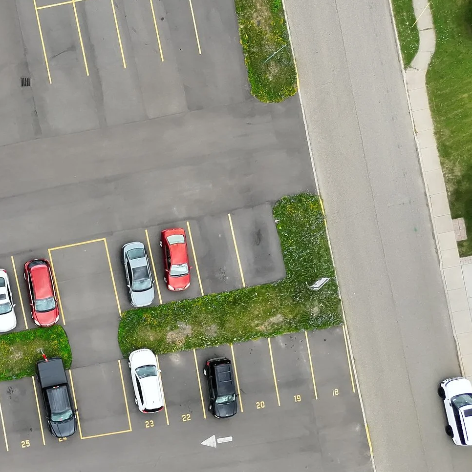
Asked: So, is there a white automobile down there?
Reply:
Yes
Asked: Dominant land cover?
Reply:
paved ground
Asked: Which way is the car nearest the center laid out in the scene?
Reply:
up and down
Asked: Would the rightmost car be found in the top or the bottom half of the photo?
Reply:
bottom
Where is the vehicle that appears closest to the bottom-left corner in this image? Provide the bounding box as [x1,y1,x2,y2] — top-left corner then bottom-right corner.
[37,354,79,440]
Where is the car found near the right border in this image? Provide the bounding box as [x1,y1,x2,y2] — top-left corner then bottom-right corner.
[440,375,472,448]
